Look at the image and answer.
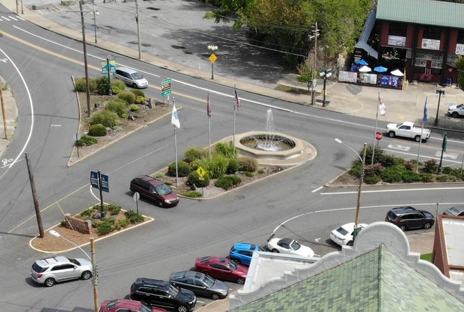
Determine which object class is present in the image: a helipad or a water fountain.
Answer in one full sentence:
There is a water fountain in the scene.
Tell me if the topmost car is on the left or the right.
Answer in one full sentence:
The topmost car sits on the left side.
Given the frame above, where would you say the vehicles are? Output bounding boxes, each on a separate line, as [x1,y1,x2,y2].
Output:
[448,102,464,117]
[385,121,432,142]
[166,270,231,299]
[128,276,199,312]
[193,256,249,283]
[386,206,438,230]
[268,236,318,256]
[437,200,464,218]
[98,298,167,312]
[229,241,277,263]
[113,65,147,86]
[30,254,97,286]
[129,174,179,206]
